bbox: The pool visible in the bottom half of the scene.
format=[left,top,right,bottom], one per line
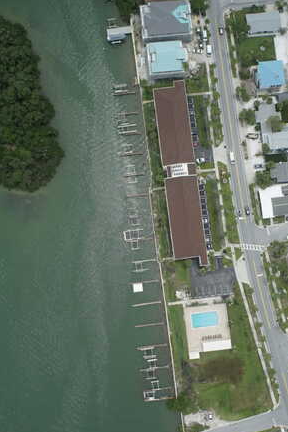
[185,302,230,360]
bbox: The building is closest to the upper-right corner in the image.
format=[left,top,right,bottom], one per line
[246,11,281,36]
